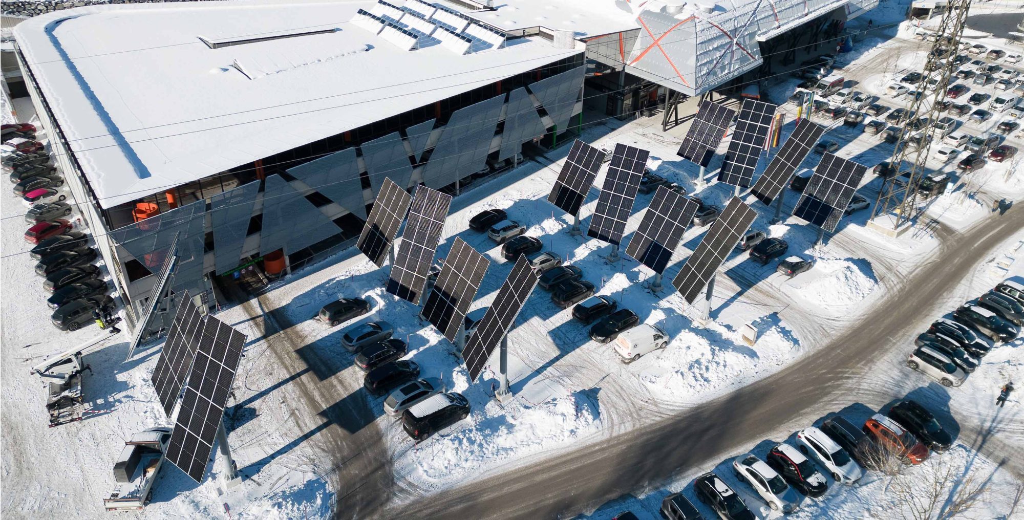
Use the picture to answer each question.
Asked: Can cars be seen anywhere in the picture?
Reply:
Yes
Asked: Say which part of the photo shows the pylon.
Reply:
top right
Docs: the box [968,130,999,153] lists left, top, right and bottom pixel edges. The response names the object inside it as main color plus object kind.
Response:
gray vehicle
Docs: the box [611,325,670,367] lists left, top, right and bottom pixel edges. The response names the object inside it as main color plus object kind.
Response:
white van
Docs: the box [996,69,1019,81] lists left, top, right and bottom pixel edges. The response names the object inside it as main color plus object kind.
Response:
white vehicle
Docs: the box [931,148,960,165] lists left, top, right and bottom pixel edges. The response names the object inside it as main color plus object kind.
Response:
white car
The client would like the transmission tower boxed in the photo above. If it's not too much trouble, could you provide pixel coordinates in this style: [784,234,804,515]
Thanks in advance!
[861,0,978,235]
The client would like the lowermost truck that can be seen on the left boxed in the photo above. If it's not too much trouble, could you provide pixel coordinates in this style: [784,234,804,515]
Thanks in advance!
[98,432,166,510]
